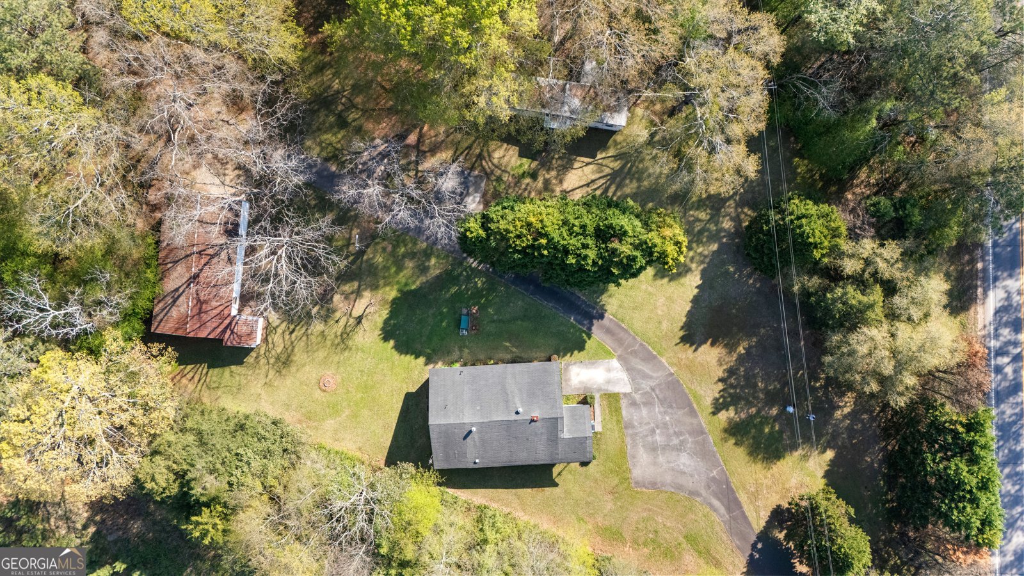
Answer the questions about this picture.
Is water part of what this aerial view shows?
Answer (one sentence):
No, the scene doesn't show any water.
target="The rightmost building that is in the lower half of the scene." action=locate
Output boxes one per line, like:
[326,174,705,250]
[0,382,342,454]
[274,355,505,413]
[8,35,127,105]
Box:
[428,360,595,472]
